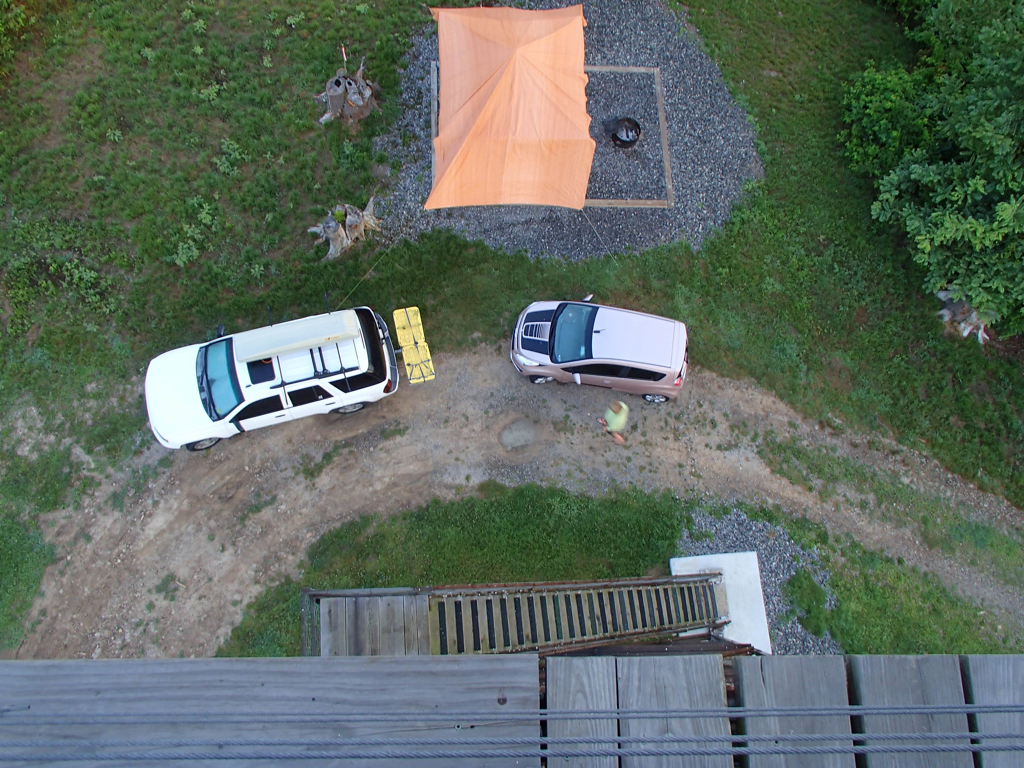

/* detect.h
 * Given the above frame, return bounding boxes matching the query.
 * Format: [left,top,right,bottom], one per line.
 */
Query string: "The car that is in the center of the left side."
[146,289,401,451]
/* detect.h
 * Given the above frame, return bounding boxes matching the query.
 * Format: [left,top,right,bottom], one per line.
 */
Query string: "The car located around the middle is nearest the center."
[510,297,693,404]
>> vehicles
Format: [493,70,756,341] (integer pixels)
[510,297,693,404]
[146,289,401,451]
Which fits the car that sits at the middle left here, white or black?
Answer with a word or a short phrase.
white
